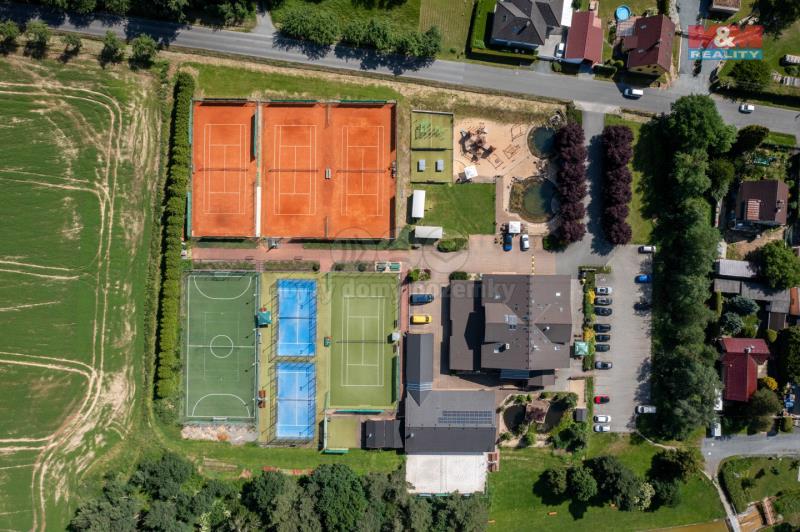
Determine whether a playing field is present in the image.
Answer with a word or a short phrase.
Yes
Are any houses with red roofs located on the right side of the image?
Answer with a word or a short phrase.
Yes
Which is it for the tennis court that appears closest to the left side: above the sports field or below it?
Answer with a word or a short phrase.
above it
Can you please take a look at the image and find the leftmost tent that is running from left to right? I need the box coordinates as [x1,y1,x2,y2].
[415,227,443,239]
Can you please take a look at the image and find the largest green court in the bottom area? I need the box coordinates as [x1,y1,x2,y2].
[330,273,396,406]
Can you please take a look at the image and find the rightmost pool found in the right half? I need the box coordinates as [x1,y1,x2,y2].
[613,5,630,21]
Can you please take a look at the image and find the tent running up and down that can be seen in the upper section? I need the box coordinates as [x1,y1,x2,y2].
[412,191,425,219]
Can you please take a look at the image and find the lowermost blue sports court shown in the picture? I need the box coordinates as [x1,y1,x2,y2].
[272,362,316,444]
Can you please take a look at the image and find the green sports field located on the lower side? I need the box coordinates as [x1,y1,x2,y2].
[182,273,258,422]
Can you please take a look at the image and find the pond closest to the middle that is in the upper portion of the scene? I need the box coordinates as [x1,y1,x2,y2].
[518,174,563,223]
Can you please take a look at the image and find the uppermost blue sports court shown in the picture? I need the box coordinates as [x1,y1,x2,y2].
[272,280,316,359]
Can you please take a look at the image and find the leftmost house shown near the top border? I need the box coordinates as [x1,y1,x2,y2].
[492,0,566,48]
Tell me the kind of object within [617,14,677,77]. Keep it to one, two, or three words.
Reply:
house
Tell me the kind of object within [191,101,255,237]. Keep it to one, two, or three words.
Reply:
tennis court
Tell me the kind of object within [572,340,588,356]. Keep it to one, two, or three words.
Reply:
gazebo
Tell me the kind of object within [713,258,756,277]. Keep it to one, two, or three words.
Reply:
shed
